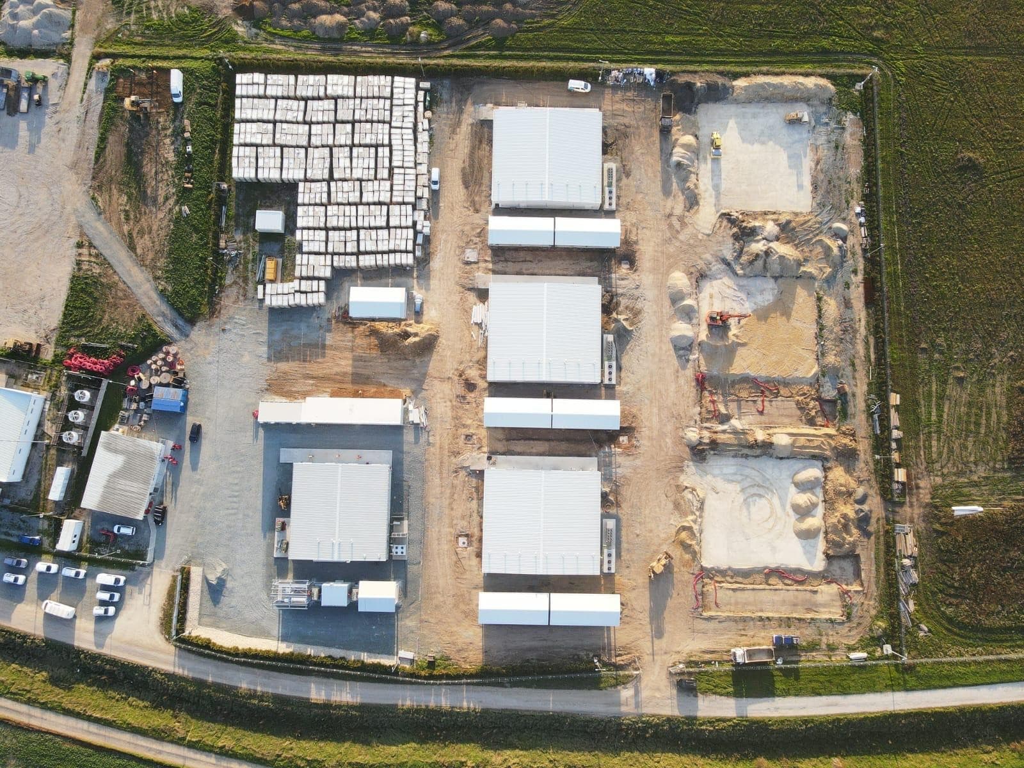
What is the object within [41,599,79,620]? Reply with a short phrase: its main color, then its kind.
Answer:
white vehicle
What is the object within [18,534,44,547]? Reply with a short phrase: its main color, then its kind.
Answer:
blue vehicle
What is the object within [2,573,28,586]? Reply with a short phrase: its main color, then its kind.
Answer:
white vehicle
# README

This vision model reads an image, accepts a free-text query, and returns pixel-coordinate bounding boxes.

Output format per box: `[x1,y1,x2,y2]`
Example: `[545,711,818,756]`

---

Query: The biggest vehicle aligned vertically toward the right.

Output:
[659,92,675,133]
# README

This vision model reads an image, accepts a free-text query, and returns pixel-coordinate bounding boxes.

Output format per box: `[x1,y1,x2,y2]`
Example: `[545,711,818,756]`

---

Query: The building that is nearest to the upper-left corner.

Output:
[256,211,287,235]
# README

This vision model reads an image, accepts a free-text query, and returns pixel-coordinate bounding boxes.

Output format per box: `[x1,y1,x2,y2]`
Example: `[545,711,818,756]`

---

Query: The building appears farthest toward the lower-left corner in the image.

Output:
[58,518,85,550]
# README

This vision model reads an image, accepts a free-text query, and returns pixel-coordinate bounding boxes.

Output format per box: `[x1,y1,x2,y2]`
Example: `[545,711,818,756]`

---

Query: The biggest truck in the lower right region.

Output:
[729,644,778,666]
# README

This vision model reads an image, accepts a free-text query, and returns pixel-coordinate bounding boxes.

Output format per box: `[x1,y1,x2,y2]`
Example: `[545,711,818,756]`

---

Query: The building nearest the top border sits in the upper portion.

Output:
[491,109,603,210]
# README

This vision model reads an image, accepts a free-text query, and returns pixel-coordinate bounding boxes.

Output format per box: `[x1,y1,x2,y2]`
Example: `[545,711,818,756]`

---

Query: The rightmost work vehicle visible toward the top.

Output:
[782,111,808,126]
